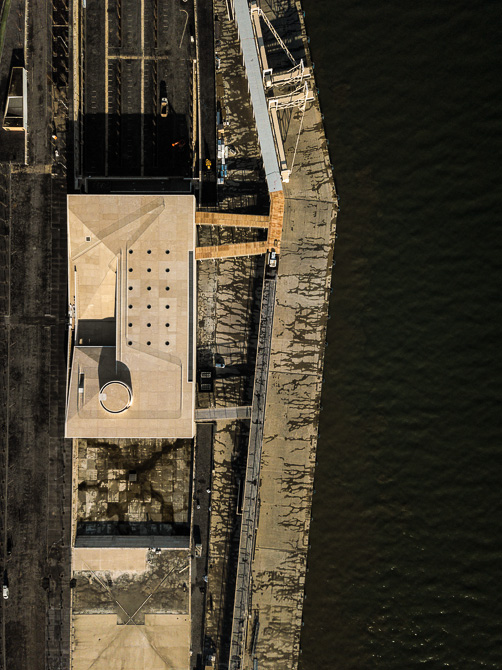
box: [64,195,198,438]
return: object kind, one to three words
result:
building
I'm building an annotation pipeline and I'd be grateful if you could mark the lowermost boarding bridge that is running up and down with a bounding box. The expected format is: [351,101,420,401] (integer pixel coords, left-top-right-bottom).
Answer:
[268,79,315,185]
